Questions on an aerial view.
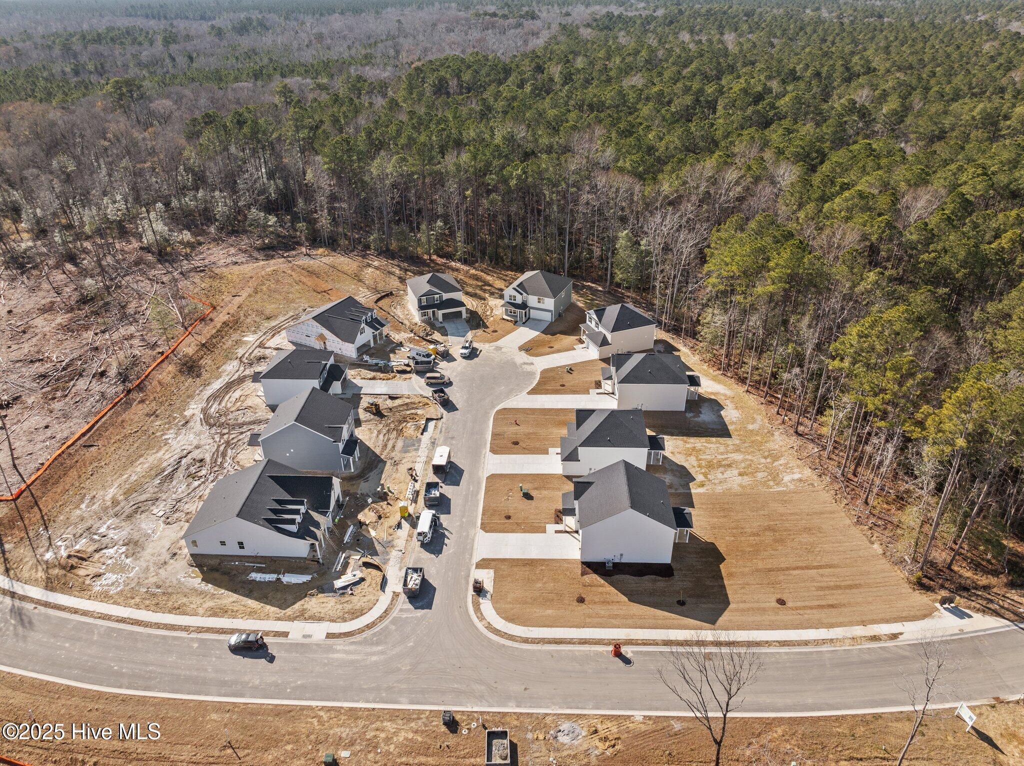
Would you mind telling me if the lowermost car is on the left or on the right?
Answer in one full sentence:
You can find the lowermost car on the left side of the picture.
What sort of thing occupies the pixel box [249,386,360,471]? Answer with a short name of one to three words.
house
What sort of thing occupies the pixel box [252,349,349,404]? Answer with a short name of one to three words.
house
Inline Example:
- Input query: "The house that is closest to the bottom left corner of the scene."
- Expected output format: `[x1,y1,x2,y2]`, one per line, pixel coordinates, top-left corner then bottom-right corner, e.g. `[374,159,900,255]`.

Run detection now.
[182,461,345,557]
